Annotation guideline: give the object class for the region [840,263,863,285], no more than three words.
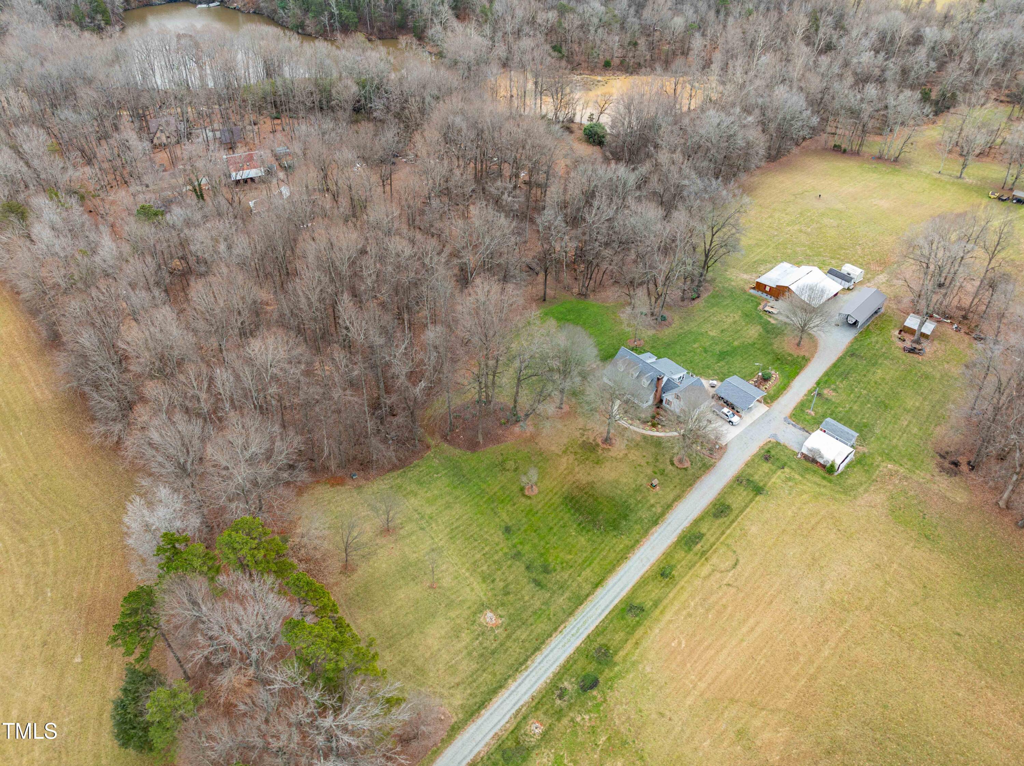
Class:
vehicle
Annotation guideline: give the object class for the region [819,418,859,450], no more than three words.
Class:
shed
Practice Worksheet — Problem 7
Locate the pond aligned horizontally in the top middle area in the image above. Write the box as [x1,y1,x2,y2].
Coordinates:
[490,72,721,132]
